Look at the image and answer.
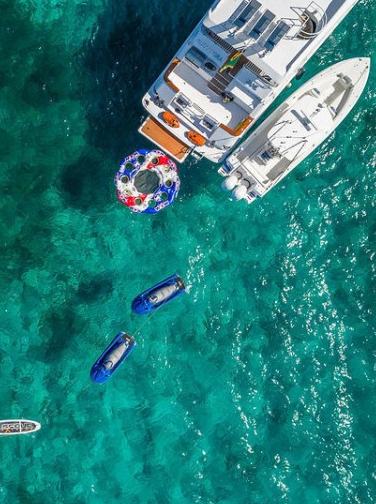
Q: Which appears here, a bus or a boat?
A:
boat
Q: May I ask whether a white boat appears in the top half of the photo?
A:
Yes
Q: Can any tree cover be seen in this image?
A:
No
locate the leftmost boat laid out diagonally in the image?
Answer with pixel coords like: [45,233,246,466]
[93,329,137,382]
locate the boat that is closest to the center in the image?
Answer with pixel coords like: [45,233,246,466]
[132,272,187,312]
